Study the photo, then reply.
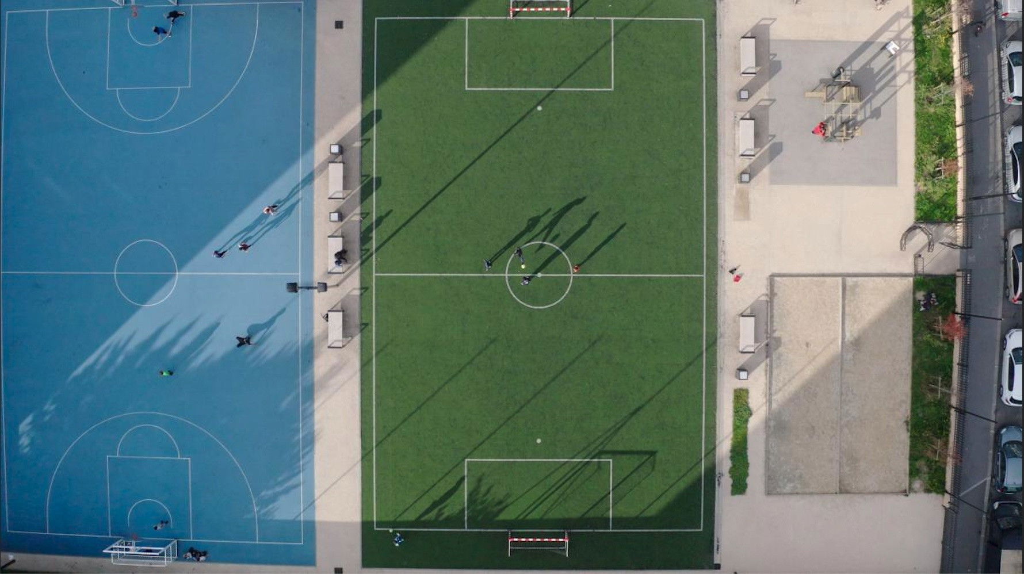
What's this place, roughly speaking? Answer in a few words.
sports ground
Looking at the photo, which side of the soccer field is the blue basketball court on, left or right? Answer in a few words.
on the left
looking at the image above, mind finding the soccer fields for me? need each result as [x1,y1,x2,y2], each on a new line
[361,0,717,569]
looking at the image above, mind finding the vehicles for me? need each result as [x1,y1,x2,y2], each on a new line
[998,329,1024,409]
[999,38,1024,107]
[992,425,1024,497]
[1003,124,1024,202]
[993,502,1024,574]
[1003,228,1024,304]
[998,0,1024,19]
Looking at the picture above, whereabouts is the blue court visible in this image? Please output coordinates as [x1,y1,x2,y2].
[0,0,316,566]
